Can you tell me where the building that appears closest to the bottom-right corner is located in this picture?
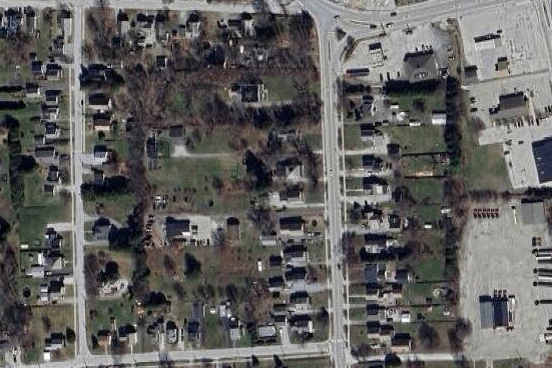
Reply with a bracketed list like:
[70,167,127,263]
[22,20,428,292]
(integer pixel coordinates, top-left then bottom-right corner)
[480,296,509,328]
